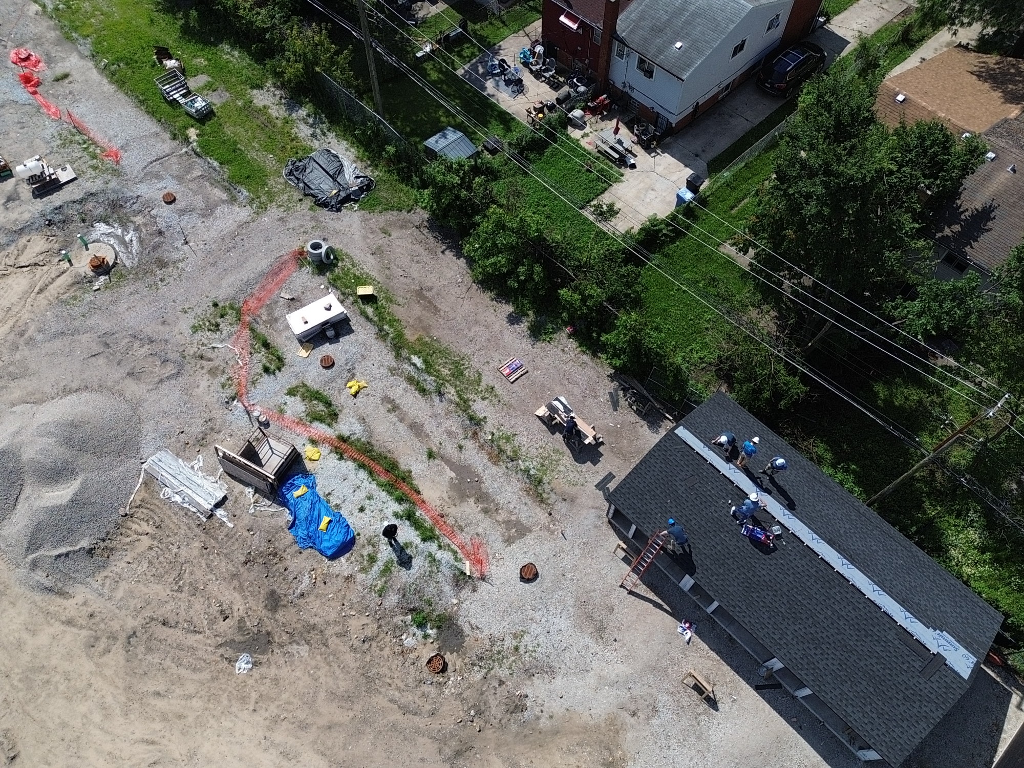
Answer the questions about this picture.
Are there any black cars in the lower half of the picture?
No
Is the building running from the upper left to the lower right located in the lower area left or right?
right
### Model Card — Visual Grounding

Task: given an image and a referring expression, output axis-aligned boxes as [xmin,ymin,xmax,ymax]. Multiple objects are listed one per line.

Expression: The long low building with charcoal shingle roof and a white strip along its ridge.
[605,389,1004,768]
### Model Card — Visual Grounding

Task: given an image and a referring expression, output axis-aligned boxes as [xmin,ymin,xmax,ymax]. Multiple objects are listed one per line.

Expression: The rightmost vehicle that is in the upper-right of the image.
[755,41,830,100]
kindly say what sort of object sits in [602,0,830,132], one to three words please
house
